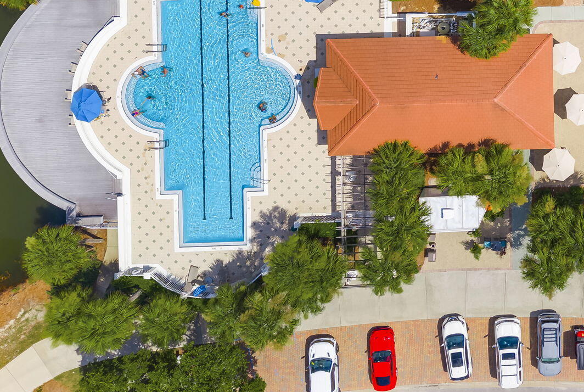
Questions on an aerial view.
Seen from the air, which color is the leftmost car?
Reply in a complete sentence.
The color of the leftmost car is white.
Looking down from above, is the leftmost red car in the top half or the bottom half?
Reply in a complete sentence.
You can find the leftmost red car in the bottom half.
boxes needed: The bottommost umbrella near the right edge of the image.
[542,147,575,180]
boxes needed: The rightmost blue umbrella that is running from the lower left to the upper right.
[198,277,216,293]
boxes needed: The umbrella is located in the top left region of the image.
[74,88,110,120]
